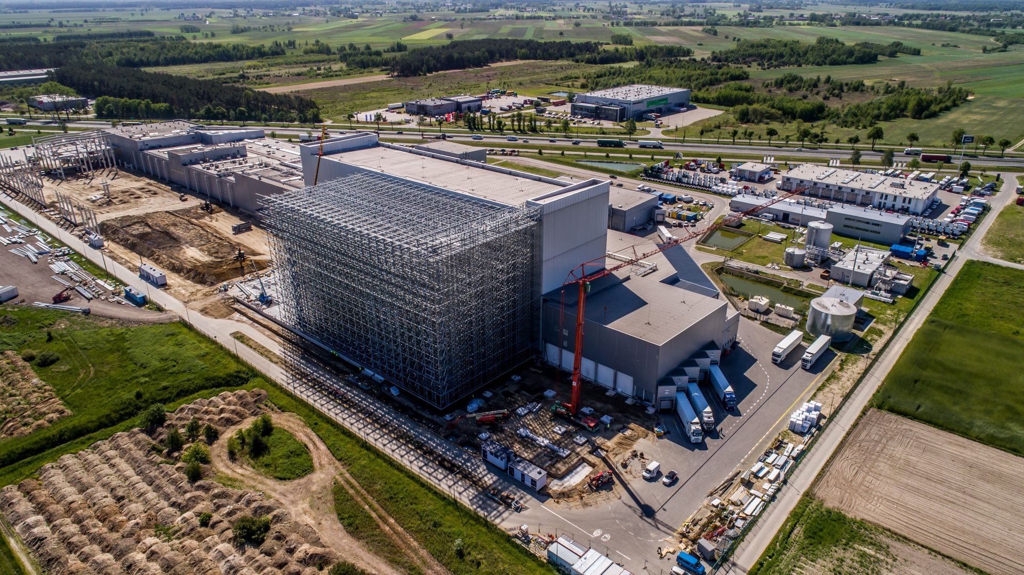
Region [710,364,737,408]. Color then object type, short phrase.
blue truck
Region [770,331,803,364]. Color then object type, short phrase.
white truck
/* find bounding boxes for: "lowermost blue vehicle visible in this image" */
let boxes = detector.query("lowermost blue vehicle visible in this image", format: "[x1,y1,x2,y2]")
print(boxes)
[677,545,707,572]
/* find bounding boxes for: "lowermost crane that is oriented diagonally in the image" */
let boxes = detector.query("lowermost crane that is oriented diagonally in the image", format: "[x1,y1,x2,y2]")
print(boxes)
[548,186,809,430]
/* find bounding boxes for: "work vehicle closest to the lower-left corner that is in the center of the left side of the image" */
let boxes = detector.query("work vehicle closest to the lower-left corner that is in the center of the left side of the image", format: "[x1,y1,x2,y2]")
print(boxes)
[52,284,70,301]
